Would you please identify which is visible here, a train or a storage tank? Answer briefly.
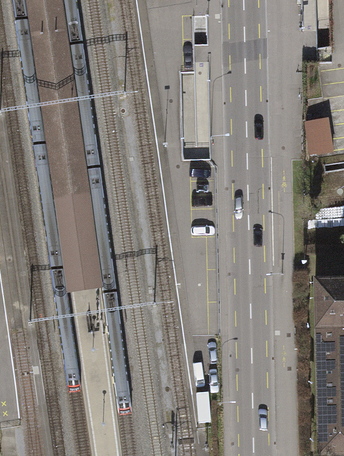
train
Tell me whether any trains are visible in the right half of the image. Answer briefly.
No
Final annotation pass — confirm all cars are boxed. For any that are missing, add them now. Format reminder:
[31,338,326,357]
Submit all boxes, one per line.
[208,371,219,395]
[182,42,194,68]
[234,192,245,218]
[252,225,264,248]
[206,342,218,364]
[190,170,212,180]
[196,182,210,192]
[258,408,269,432]
[192,196,212,207]
[190,225,214,236]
